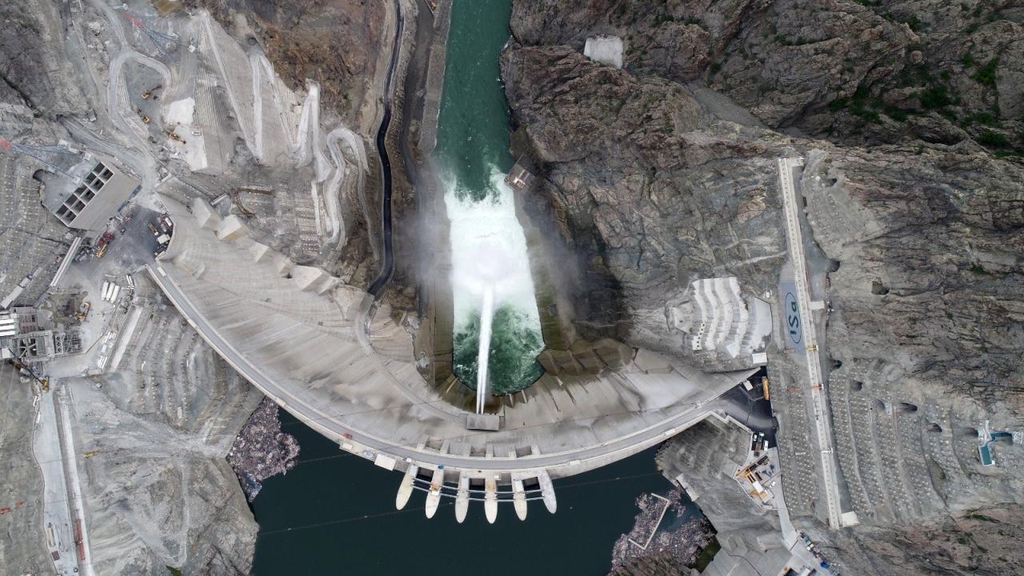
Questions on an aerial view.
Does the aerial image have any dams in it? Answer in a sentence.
Yes, a dam can be made out from above.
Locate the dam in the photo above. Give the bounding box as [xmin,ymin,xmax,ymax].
[150,193,763,524]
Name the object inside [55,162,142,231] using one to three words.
building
